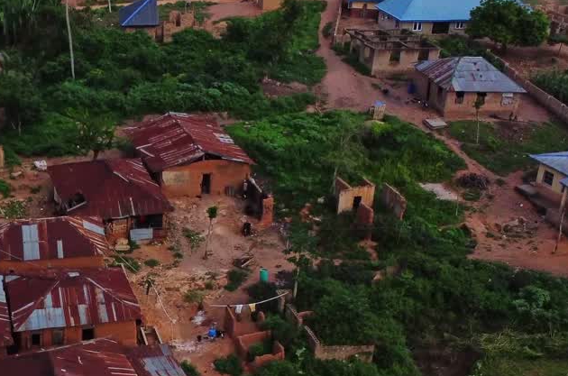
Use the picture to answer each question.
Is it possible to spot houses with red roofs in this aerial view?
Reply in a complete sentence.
Yes, the image includes a house with a red roof.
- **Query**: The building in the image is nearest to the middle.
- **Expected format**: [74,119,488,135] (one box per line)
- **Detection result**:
[124,111,257,197]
